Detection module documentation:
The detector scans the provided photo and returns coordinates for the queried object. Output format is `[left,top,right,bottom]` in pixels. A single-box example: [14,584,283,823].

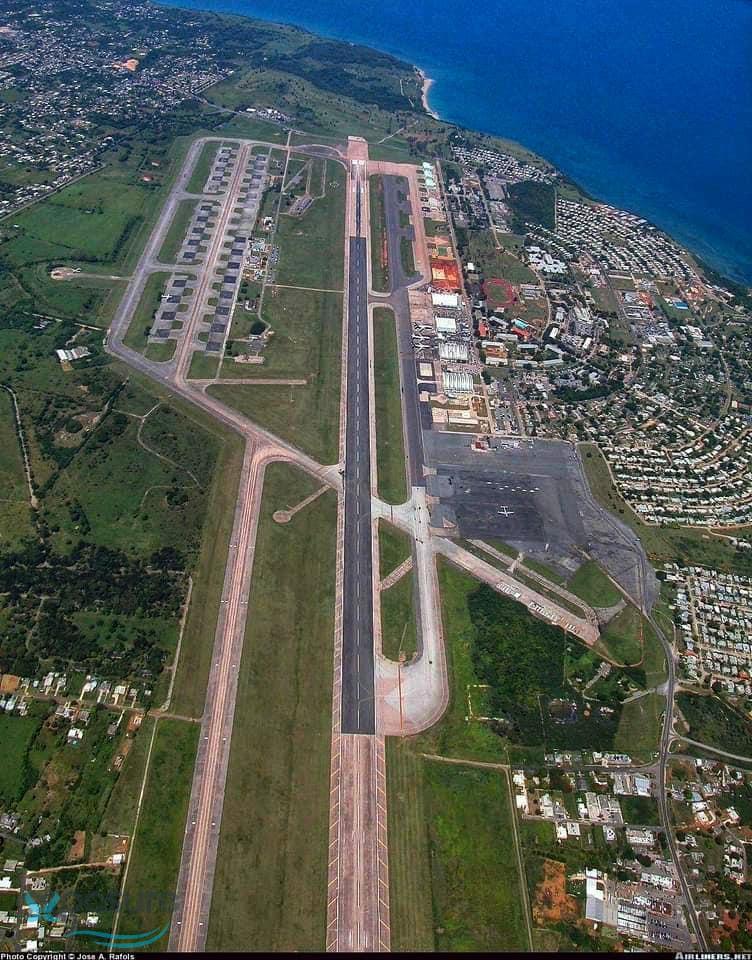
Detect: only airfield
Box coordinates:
[51,136,661,960]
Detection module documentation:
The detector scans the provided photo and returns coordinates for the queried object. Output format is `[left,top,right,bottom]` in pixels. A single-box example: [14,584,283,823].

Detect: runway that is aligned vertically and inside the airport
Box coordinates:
[327,160,391,960]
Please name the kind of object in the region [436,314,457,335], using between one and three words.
hangar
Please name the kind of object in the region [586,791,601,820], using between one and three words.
building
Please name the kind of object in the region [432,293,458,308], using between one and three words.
hangar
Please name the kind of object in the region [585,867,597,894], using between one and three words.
building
